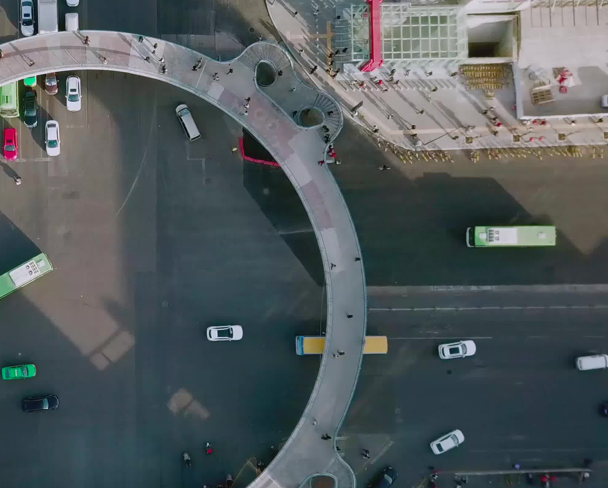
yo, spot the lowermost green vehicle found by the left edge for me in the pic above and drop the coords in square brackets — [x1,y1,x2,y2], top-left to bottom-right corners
[1,363,37,380]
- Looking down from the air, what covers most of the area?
paved ground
